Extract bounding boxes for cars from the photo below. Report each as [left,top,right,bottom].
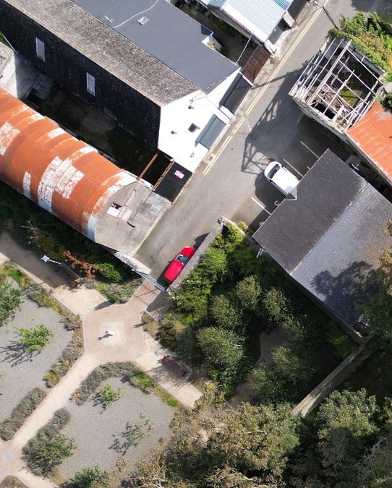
[157,243,194,282]
[259,158,299,194]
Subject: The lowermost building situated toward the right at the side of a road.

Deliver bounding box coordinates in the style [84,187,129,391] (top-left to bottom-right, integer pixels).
[252,147,392,330]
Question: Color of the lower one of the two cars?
red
